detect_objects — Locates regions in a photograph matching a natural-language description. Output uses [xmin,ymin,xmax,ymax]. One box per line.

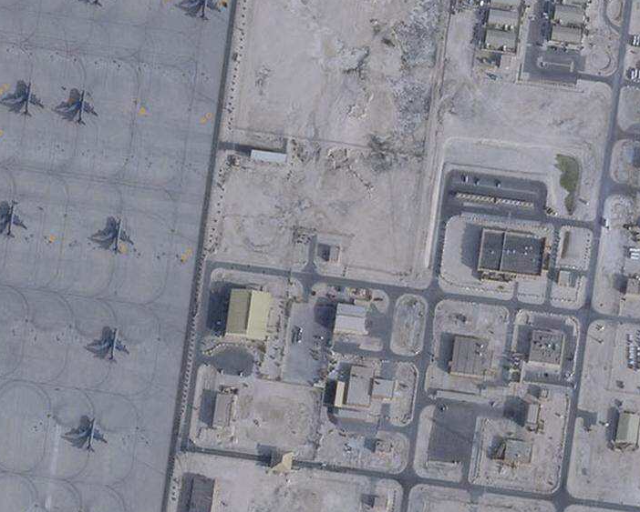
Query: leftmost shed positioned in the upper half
[251,150,287,163]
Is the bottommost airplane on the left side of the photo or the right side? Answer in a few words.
left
